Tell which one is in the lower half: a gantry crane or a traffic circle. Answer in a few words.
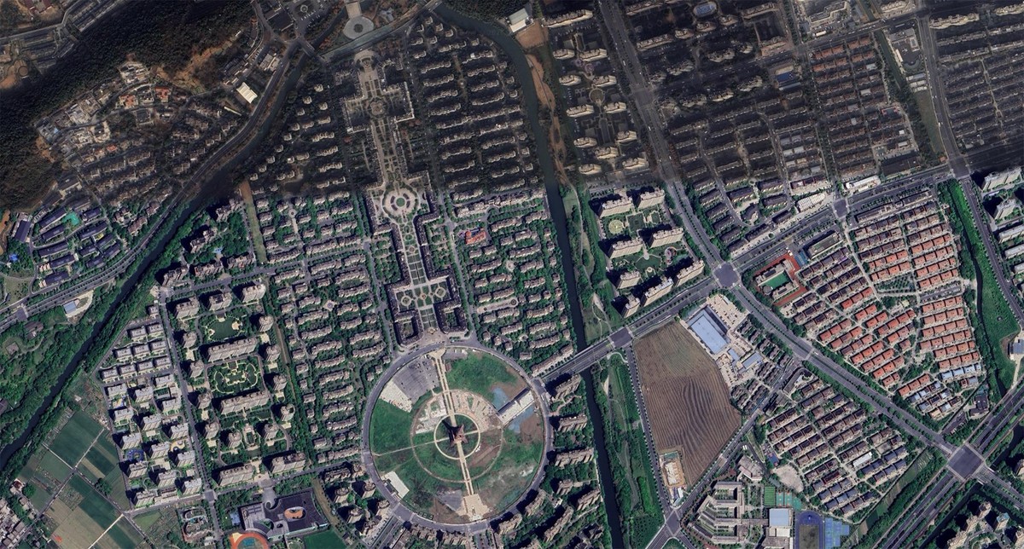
traffic circle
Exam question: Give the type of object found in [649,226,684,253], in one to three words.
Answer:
building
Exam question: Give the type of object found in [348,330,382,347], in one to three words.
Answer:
building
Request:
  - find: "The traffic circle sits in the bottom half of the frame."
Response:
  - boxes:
[362,342,552,531]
